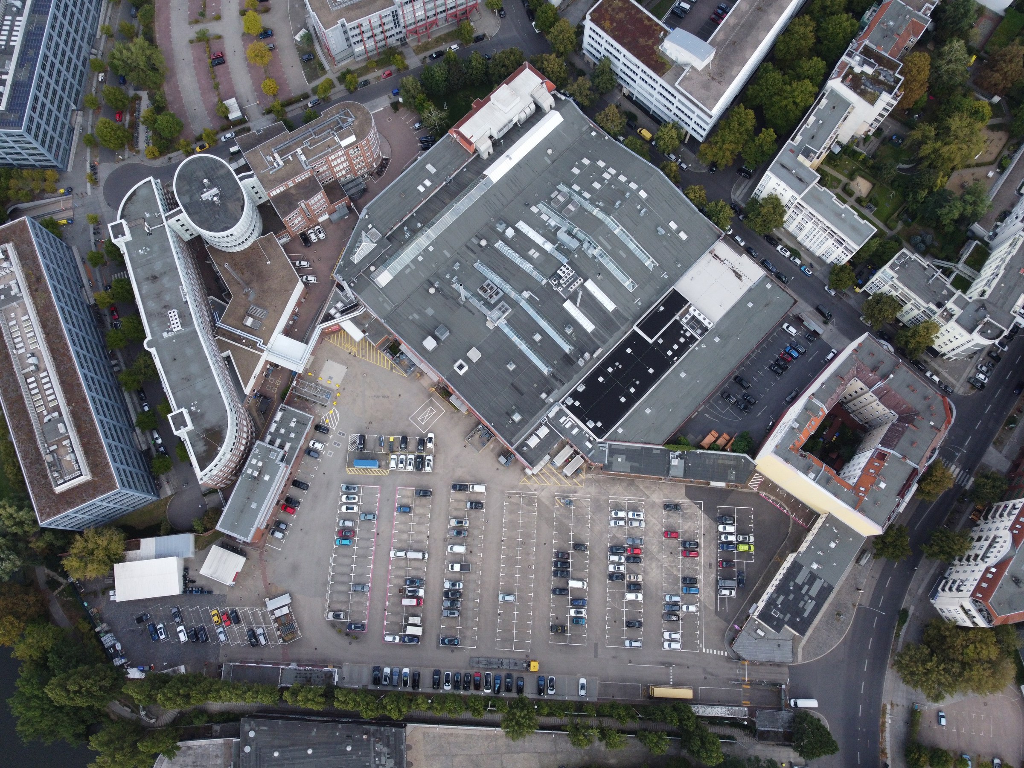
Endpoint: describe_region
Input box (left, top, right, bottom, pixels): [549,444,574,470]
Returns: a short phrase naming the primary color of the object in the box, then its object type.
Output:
white truck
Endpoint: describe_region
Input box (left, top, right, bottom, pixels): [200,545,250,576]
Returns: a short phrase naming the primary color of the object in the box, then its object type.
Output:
white tent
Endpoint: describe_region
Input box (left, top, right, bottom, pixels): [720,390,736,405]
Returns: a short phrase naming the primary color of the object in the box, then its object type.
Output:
black car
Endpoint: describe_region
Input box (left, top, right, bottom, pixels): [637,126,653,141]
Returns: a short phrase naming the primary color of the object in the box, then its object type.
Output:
yellow vehicle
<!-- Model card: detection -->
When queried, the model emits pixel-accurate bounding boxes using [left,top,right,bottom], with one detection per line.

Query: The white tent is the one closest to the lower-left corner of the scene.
[114,561,185,601]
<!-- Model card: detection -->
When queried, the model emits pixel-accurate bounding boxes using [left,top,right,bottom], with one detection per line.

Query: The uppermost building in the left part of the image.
[307,0,481,72]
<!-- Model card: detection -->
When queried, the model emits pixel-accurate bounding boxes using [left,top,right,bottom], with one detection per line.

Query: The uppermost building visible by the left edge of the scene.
[0,0,100,172]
